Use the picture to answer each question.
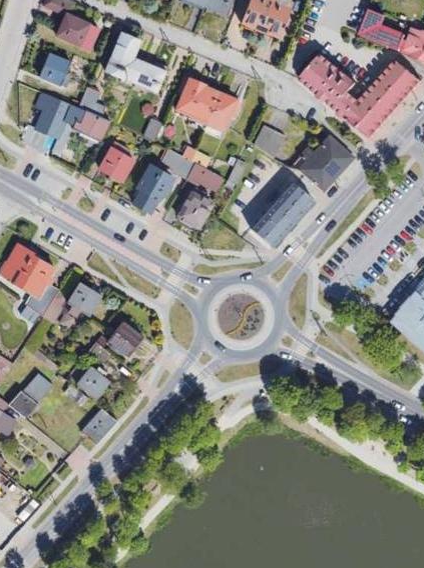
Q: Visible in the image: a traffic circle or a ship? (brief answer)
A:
traffic circle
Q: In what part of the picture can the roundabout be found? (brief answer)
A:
center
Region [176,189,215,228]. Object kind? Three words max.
house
